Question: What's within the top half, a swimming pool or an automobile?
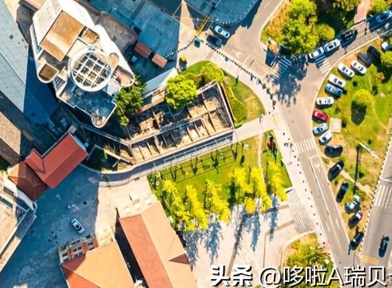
automobile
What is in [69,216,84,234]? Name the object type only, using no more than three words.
car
